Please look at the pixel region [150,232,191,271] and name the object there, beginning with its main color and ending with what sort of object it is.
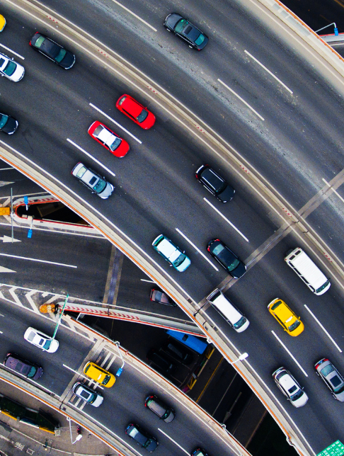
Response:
white car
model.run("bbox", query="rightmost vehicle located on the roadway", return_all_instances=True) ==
[313,356,344,401]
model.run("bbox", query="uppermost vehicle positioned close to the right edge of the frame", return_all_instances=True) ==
[284,246,331,296]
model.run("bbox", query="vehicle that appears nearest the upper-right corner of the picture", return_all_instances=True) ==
[163,13,210,51]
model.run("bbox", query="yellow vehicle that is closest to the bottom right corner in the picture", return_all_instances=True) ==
[267,297,302,336]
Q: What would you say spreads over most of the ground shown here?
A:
paved ground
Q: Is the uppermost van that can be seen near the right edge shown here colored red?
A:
No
